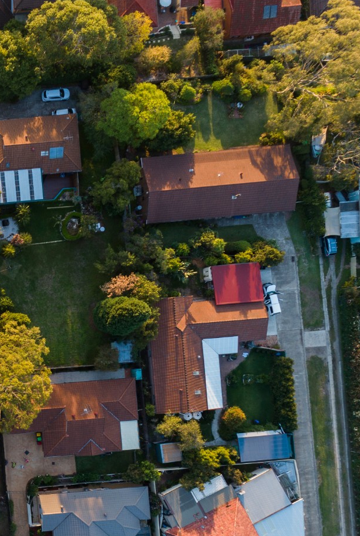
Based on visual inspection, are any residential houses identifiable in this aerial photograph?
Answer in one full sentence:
Yes, the frame does contain a residential house.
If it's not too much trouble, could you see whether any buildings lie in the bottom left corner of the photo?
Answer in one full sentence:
Yes, you'll find a building in the bottom left corner of the photo.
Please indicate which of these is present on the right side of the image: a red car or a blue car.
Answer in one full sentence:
What appears on the right side of the image is a blue car.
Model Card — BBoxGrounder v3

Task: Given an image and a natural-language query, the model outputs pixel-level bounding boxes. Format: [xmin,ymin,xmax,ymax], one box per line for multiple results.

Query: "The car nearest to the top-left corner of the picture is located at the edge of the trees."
[42,86,71,101]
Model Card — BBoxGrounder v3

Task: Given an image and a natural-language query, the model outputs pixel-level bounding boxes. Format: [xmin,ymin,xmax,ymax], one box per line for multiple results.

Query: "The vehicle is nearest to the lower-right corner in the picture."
[264,282,287,316]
